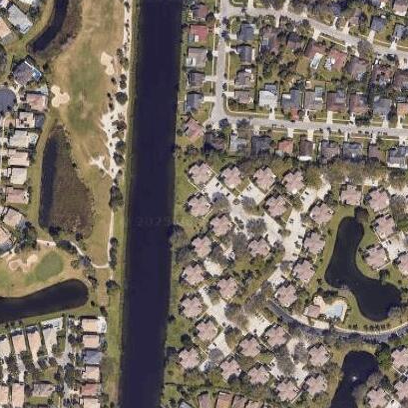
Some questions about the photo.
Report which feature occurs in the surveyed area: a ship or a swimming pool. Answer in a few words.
swimming pool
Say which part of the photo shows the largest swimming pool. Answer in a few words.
bottom right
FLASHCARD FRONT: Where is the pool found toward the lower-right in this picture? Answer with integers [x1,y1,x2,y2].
[313,295,347,320]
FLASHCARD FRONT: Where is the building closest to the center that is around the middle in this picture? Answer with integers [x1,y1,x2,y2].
[184,191,212,218]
